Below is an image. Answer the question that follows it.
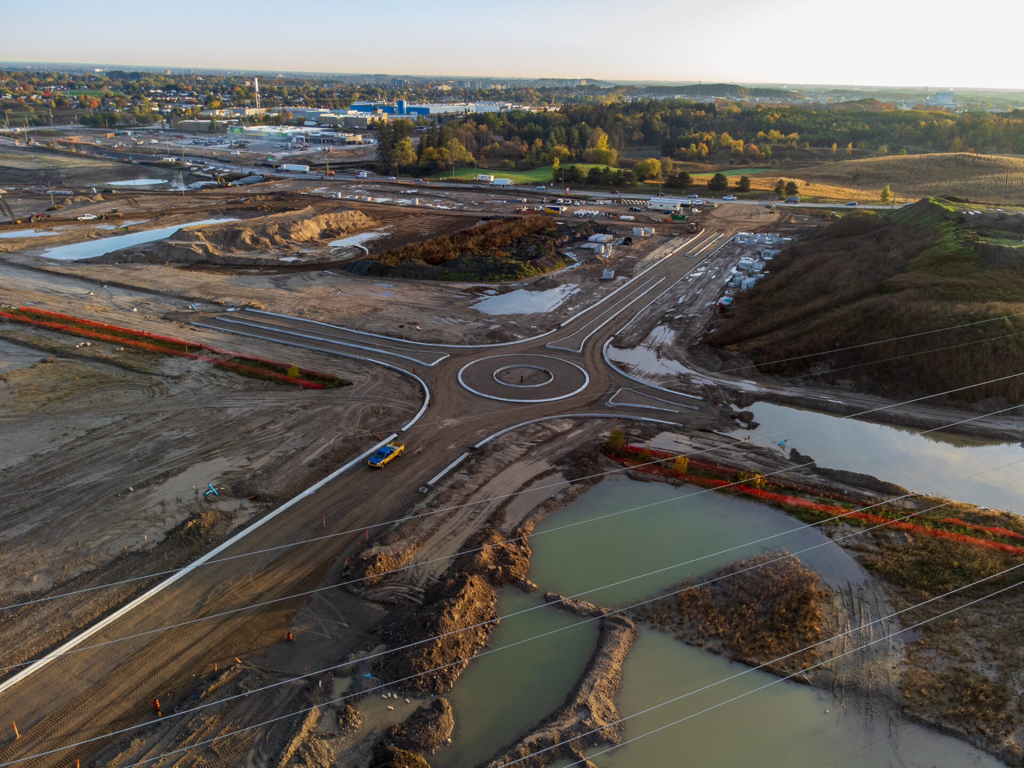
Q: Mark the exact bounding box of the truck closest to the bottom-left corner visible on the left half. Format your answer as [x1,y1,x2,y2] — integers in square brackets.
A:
[365,439,406,466]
